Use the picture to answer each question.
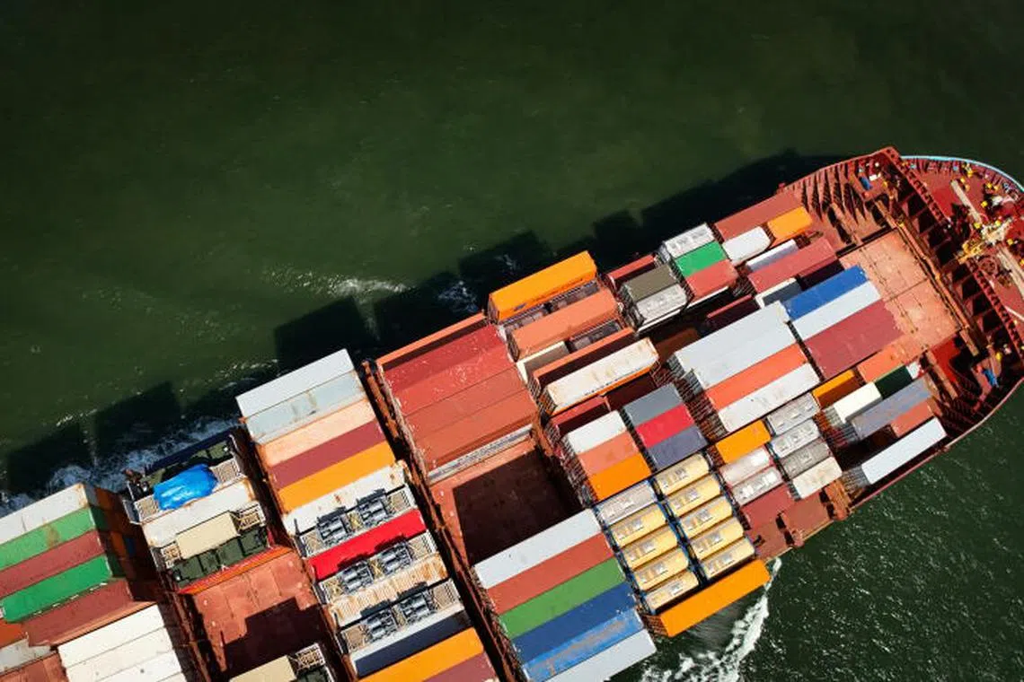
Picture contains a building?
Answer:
No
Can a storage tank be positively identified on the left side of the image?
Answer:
No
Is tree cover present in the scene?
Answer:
No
